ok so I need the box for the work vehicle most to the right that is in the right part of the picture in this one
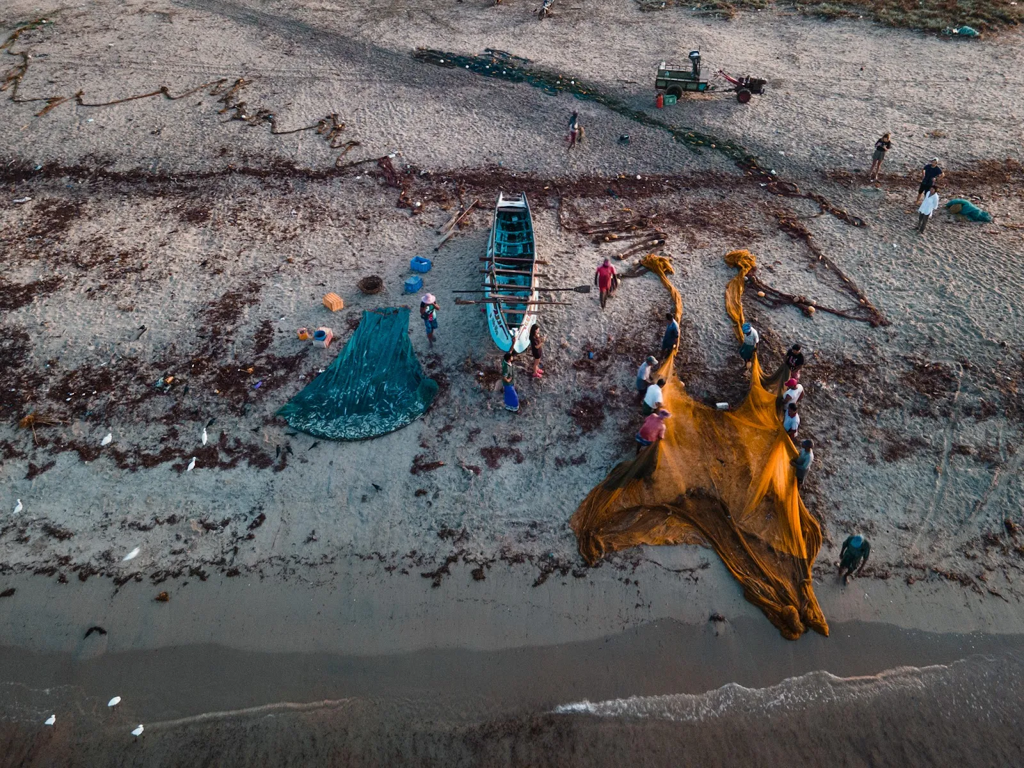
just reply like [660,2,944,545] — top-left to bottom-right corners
[714,70,769,103]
